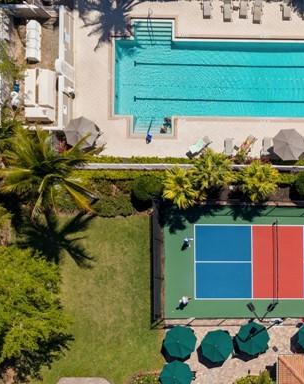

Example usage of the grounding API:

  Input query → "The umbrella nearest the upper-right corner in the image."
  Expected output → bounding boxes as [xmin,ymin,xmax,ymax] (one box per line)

[272,127,304,163]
